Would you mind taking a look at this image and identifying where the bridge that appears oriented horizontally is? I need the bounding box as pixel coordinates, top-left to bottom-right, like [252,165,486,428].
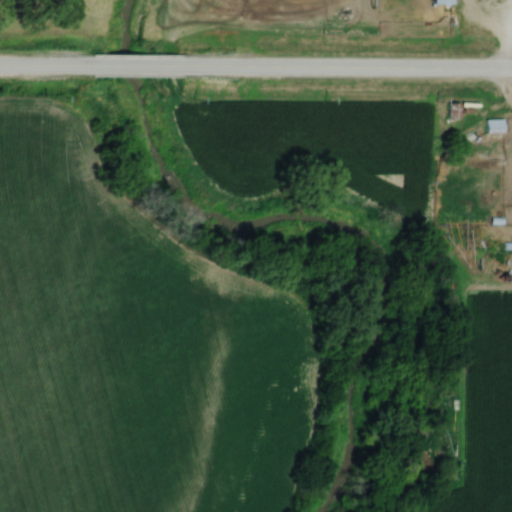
[96,55,186,78]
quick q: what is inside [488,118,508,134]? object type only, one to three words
shed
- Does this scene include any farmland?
Yes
